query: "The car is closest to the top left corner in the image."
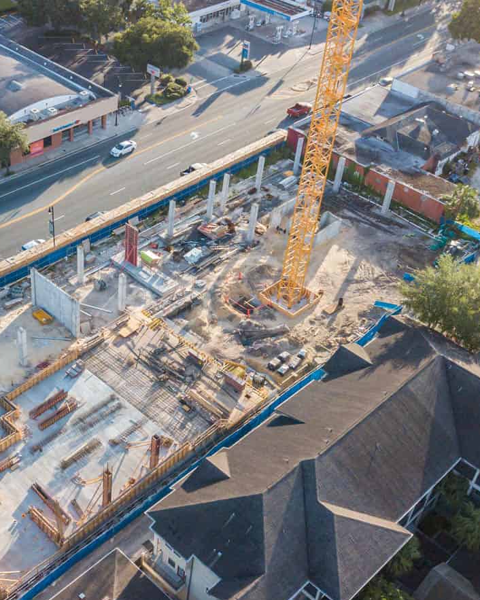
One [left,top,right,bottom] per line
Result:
[108,140,138,157]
